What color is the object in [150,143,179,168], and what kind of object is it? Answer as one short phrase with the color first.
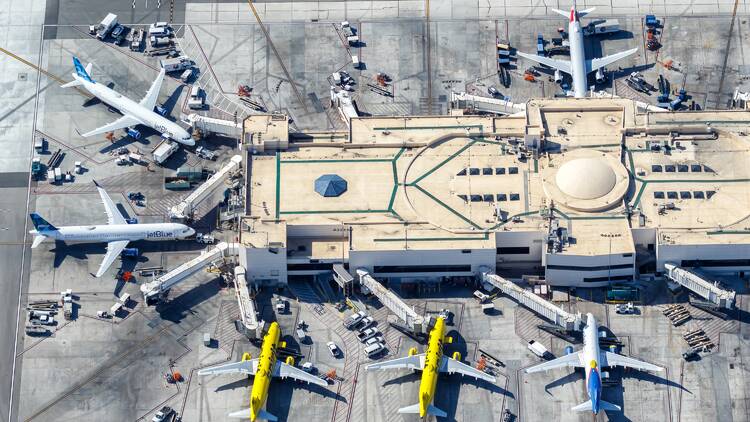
white truck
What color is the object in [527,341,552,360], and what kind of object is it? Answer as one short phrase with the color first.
white vehicle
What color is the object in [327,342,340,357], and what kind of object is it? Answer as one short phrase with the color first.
white vehicle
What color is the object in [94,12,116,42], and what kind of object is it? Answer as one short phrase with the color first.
white truck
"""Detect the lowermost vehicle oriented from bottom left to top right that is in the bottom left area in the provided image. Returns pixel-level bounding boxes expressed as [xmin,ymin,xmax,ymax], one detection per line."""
[152,404,172,421]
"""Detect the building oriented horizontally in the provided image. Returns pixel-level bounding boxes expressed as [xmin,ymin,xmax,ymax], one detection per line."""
[240,97,750,289]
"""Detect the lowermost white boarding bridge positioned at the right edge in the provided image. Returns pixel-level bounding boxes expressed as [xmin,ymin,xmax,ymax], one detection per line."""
[661,261,744,317]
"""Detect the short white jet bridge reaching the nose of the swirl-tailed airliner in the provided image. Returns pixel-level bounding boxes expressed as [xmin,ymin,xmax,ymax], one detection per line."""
[177,116,242,147]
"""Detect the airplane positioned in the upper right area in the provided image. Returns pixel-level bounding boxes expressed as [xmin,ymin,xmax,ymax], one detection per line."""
[517,0,638,98]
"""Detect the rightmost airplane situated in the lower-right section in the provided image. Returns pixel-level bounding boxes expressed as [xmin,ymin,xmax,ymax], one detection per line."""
[525,313,664,415]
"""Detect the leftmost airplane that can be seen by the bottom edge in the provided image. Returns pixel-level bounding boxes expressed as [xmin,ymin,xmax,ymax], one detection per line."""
[198,323,329,422]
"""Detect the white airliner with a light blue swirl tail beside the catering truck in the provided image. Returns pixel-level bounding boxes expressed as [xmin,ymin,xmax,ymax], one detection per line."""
[62,58,196,147]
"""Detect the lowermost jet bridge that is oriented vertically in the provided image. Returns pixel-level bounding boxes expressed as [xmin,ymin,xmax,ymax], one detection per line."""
[233,262,266,342]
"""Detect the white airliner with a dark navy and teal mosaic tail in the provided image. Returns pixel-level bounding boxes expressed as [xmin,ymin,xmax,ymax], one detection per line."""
[29,179,196,277]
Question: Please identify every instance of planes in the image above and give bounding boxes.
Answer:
[29,179,196,277]
[517,0,638,98]
[62,58,196,147]
[365,319,496,420]
[198,323,329,422]
[525,313,664,415]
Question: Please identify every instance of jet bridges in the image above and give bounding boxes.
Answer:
[163,157,243,225]
[661,261,744,317]
[446,94,527,115]
[177,116,242,147]
[478,267,584,338]
[233,262,266,342]
[352,265,434,338]
[584,88,666,111]
[325,87,362,129]
[133,244,241,308]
